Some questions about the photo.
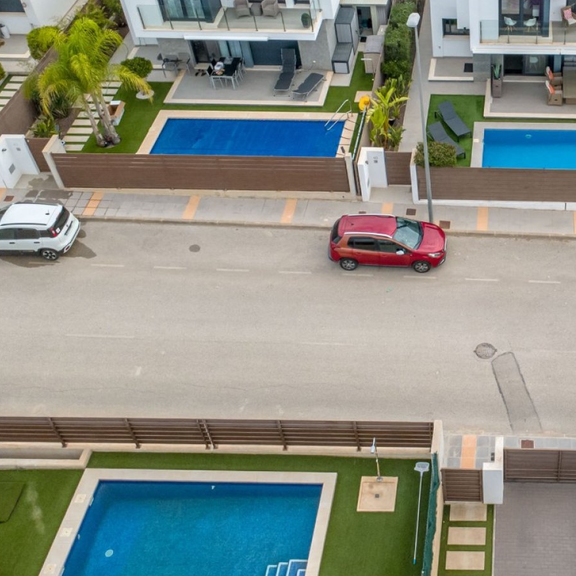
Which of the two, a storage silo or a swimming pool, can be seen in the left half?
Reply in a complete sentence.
The one visible in the left half is a swimming pool.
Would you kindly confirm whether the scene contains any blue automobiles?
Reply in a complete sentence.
No, there's no blue automobile here.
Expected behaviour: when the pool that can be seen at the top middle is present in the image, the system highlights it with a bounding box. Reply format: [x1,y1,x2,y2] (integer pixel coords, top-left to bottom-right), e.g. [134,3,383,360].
[136,111,357,166]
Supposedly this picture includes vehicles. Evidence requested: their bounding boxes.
[324,213,448,275]
[0,200,81,261]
